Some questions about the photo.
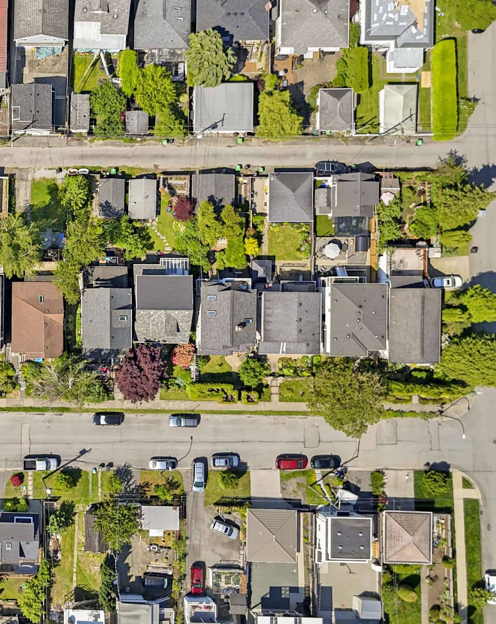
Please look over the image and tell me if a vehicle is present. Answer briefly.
Yes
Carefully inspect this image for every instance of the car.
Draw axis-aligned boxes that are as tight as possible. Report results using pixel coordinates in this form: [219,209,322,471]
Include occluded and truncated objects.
[141,572,174,589]
[167,413,200,428]
[146,457,178,471]
[191,459,207,493]
[208,518,241,539]
[314,161,345,176]
[274,455,307,469]
[430,275,462,289]
[209,453,240,468]
[309,455,341,469]
[482,569,496,605]
[90,412,123,426]
[22,457,59,472]
[470,26,485,37]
